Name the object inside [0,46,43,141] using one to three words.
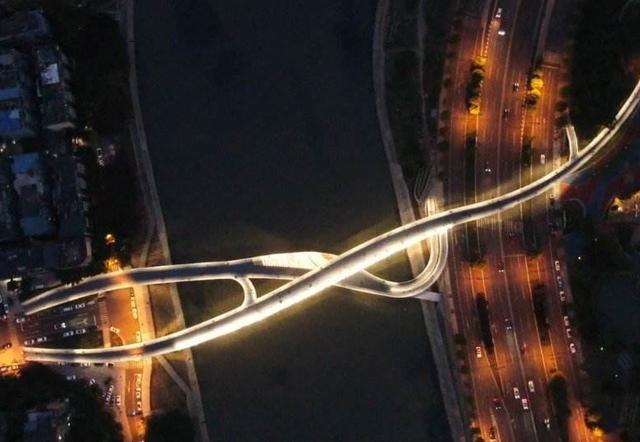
building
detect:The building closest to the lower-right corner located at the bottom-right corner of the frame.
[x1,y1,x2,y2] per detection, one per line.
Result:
[593,369,640,442]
